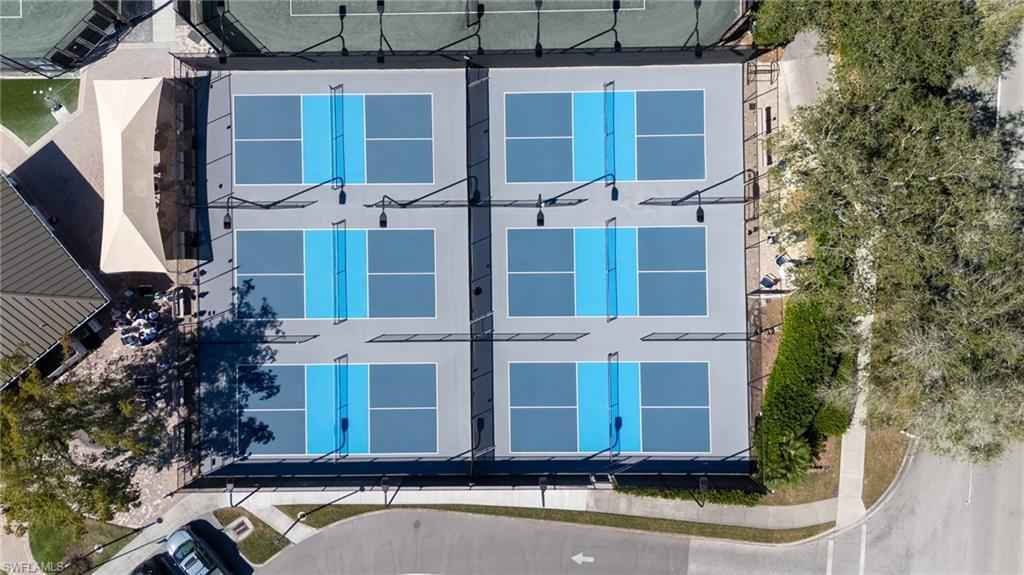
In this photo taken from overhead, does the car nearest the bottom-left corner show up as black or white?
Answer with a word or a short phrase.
black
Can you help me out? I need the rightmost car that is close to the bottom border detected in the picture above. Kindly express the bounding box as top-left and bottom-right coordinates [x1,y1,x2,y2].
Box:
[167,527,228,575]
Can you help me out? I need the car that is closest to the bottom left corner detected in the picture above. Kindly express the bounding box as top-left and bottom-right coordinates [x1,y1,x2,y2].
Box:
[134,555,174,575]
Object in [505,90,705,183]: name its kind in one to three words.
sports court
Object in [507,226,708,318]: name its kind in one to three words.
sports court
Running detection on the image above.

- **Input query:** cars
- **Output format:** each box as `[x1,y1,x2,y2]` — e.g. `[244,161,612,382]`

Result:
[134,555,174,575]
[167,527,228,575]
